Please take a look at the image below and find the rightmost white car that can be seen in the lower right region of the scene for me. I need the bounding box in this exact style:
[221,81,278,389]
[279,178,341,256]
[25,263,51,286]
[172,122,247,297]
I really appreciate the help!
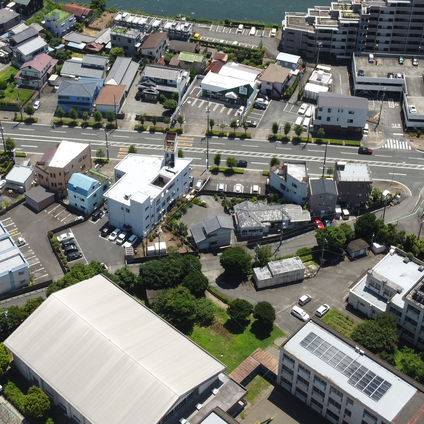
[314,303,332,318]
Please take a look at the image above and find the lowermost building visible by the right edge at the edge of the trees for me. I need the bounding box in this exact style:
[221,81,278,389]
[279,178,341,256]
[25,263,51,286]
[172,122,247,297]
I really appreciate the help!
[274,314,424,424]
